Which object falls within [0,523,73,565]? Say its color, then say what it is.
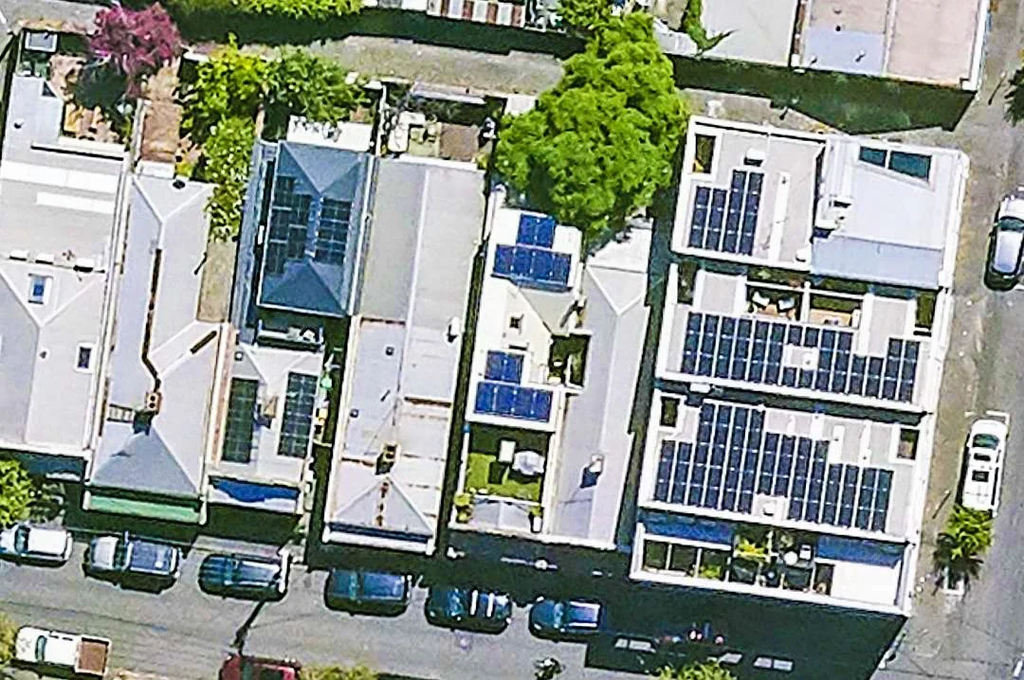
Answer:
white car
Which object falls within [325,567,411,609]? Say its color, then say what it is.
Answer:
blue car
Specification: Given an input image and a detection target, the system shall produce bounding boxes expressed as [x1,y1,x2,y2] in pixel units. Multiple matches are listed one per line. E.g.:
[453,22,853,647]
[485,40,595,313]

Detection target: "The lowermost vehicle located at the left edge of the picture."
[9,628,117,677]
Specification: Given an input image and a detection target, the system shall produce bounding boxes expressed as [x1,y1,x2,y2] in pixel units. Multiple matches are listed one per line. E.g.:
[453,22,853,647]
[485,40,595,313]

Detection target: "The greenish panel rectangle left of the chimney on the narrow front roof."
[222,377,258,463]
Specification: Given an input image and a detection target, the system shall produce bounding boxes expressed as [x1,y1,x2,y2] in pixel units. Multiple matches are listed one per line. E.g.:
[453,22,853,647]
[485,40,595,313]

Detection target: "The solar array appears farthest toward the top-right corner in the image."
[689,171,764,253]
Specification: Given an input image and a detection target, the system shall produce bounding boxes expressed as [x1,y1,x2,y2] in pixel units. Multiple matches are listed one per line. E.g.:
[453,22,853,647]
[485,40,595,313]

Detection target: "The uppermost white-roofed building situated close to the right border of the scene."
[797,0,987,93]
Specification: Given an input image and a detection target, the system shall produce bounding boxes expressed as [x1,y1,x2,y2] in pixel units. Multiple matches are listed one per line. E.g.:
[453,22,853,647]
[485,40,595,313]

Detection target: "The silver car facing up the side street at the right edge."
[981,192,1024,289]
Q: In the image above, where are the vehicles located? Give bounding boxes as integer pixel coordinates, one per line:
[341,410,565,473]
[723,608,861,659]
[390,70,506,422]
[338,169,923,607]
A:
[198,549,284,591]
[325,567,411,609]
[0,523,73,565]
[707,641,796,680]
[593,622,674,663]
[425,585,512,628]
[960,416,1008,513]
[981,192,1024,289]
[9,628,117,677]
[528,595,605,636]
[89,537,181,582]
[219,657,302,680]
